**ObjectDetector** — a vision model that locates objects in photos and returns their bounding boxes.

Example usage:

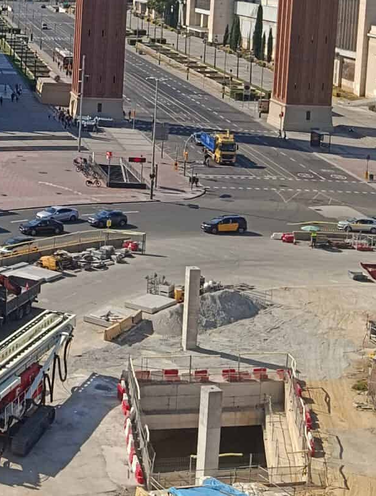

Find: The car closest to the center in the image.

[200,211,249,233]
